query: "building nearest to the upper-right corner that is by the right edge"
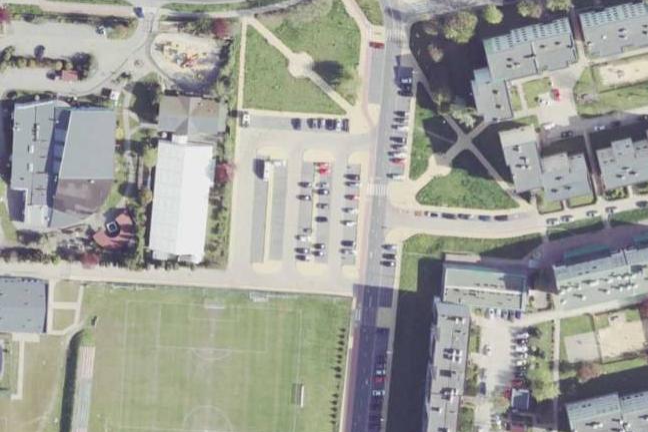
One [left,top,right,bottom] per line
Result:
[578,0,648,60]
